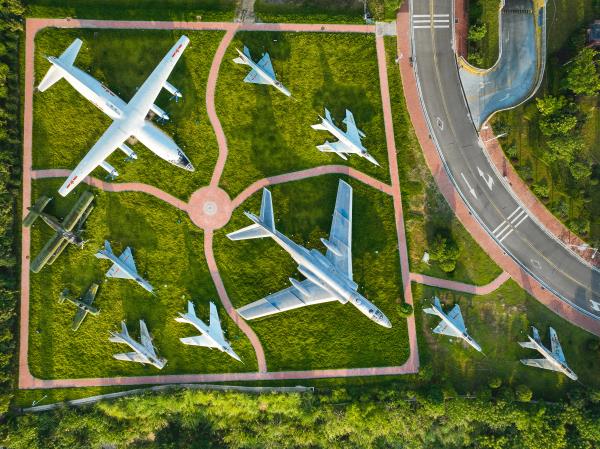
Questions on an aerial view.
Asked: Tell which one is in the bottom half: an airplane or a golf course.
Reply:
airplane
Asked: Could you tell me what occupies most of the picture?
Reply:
grass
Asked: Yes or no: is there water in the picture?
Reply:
No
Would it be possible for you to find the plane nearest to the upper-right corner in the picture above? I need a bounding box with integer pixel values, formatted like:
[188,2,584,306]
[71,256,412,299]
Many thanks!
[309,107,381,169]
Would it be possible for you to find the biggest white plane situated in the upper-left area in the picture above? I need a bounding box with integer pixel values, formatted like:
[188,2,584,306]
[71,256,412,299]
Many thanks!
[35,37,193,194]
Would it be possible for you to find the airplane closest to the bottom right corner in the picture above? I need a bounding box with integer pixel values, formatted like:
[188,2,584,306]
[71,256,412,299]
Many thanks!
[517,325,579,383]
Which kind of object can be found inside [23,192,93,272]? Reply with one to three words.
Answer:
airplane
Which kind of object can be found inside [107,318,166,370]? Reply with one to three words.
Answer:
airplane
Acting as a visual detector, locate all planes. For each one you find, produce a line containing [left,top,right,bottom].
[35,37,193,194]
[227,179,391,327]
[107,318,166,370]
[23,192,93,272]
[422,296,485,354]
[309,107,381,169]
[175,301,250,361]
[93,240,161,294]
[233,46,295,101]
[517,325,579,383]
[58,283,100,331]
